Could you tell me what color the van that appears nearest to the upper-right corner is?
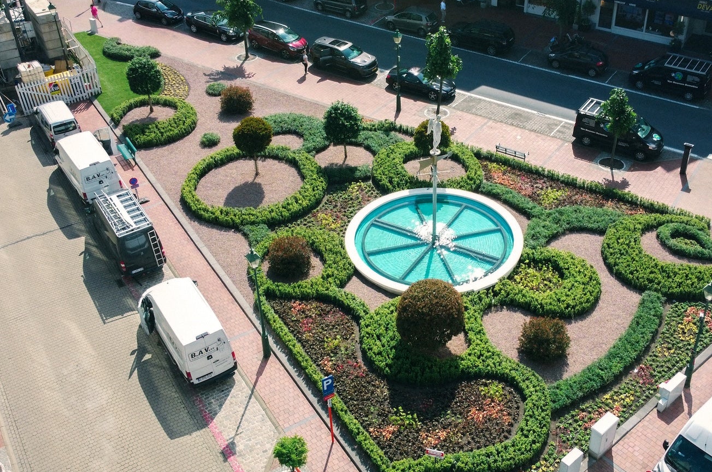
black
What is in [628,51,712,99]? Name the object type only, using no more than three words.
van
